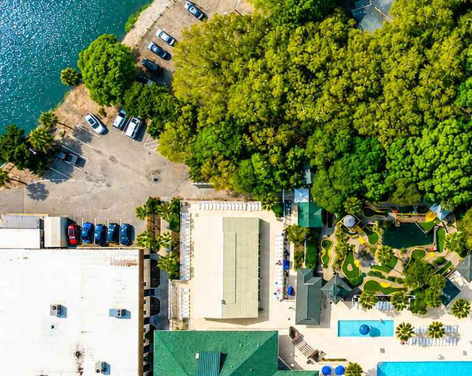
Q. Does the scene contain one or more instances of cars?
Yes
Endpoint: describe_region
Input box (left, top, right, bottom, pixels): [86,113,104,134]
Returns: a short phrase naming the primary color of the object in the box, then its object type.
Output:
white car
